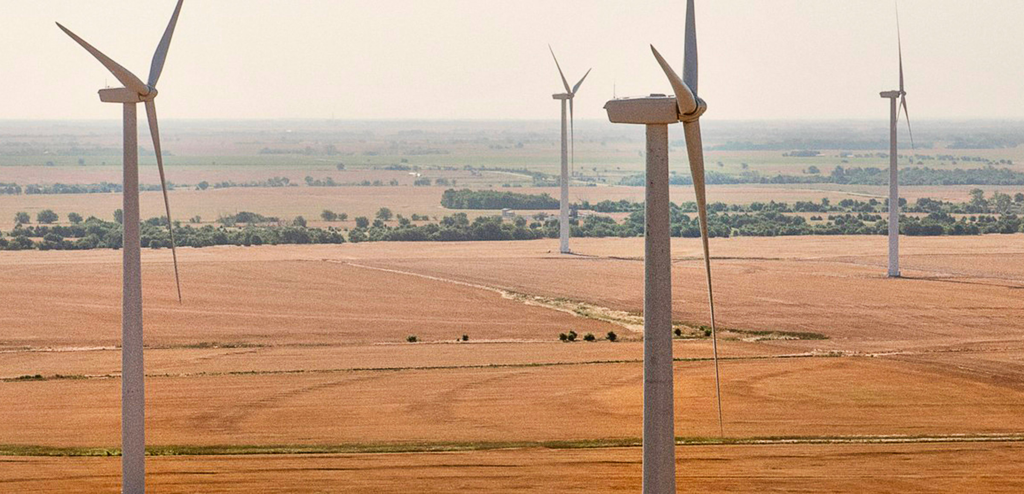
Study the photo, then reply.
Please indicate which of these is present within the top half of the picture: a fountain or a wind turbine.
wind turbine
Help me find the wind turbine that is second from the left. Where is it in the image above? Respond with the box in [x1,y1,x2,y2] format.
[547,42,589,254]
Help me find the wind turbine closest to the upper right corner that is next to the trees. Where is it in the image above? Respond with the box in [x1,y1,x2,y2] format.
[879,0,912,277]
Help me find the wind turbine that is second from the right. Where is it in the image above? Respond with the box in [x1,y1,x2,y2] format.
[602,0,720,494]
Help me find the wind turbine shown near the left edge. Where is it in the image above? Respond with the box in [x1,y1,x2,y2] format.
[50,0,183,494]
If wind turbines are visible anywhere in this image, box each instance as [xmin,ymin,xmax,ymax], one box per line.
[602,0,720,494]
[879,0,912,277]
[547,42,589,254]
[50,0,183,494]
